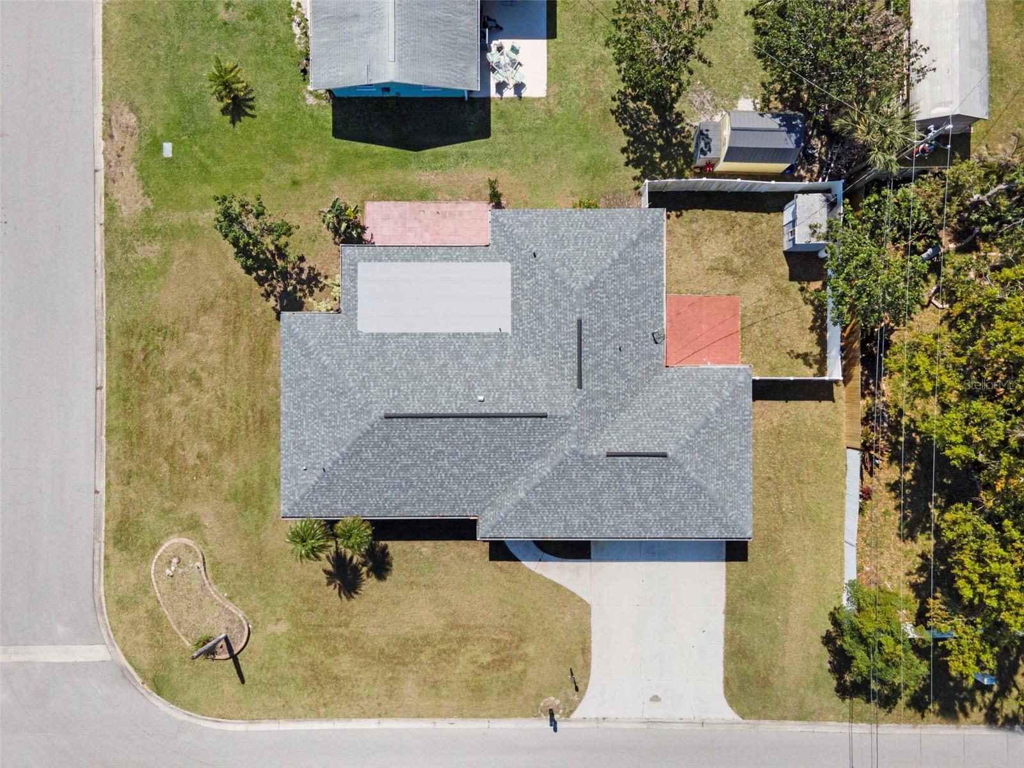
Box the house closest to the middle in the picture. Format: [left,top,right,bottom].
[281,208,753,542]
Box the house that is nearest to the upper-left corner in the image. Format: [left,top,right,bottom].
[308,0,489,98]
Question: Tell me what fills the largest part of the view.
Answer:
grass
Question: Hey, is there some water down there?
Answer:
No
